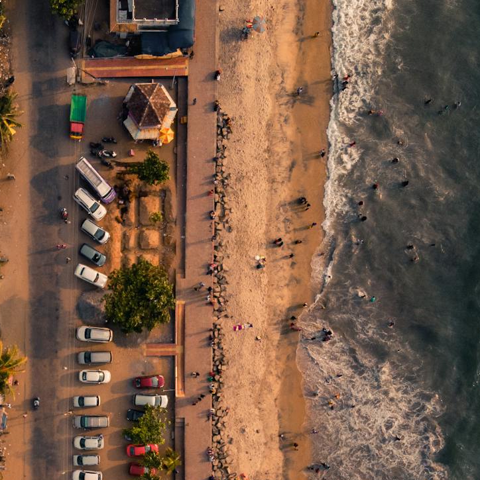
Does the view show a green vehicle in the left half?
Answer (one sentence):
Yes, there is a green vehicle in the left half.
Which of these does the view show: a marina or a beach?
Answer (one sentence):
What you see here is a beach.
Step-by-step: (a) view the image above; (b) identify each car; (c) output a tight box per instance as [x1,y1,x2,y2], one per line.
[72,187,109,221]
[133,373,164,390]
[78,350,112,366]
[127,443,159,459]
[79,369,110,384]
[134,392,167,409]
[76,325,112,343]
[129,463,157,479]
[74,435,103,451]
[73,454,100,467]
[72,469,102,480]
[79,217,111,246]
[73,393,100,409]
[74,414,109,432]
[124,407,153,420]
[73,261,108,290]
[78,242,108,269]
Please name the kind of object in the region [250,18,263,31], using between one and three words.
umbrella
